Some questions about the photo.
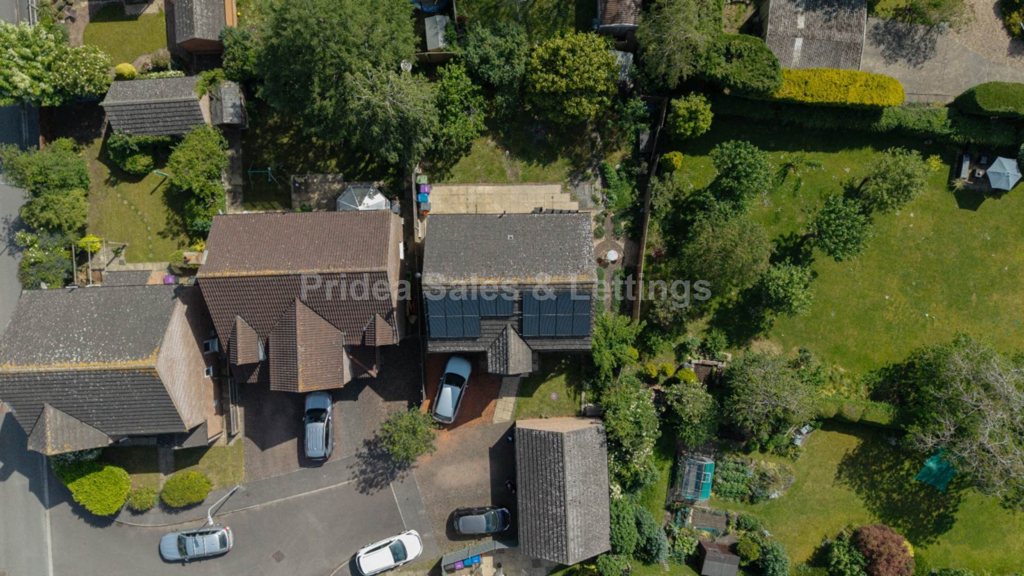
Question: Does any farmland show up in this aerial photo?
No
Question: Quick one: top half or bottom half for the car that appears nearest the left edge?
bottom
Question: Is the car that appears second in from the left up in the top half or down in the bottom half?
bottom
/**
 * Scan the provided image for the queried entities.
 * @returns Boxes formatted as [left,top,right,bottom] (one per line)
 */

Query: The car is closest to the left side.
[161,523,235,562]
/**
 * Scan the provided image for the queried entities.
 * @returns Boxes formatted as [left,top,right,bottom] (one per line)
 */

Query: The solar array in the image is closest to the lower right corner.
[523,294,592,336]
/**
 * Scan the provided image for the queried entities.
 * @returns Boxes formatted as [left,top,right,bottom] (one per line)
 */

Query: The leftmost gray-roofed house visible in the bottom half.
[0,259,220,455]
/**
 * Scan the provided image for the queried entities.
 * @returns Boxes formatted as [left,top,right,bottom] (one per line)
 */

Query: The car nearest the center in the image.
[431,354,471,424]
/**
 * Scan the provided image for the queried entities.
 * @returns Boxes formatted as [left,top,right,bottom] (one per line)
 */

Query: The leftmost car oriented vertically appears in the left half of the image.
[301,391,336,461]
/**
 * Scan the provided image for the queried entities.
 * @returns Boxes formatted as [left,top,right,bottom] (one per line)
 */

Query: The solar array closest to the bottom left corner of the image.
[426,295,513,337]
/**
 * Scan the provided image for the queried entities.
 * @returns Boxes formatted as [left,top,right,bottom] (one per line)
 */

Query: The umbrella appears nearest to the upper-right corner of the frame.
[979,157,1022,190]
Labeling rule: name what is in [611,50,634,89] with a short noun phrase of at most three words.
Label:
shed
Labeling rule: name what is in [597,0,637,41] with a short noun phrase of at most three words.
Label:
building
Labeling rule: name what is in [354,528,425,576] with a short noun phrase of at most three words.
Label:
car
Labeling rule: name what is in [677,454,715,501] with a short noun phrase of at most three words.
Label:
greenhouse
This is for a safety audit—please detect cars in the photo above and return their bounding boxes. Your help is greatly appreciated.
[431,354,471,424]
[161,523,235,562]
[354,528,425,576]
[453,504,511,537]
[301,391,336,461]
